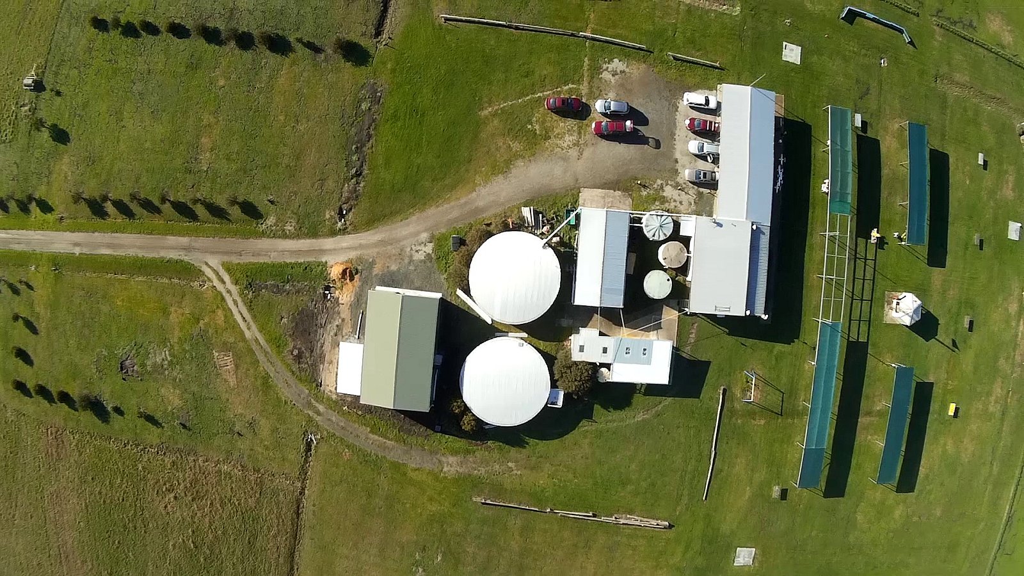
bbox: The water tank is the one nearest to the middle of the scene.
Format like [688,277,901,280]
[469,231,561,323]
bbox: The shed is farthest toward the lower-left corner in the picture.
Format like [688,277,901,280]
[337,288,442,412]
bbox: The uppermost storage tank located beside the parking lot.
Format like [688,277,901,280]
[640,210,673,242]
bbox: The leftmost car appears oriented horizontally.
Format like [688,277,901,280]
[546,95,582,111]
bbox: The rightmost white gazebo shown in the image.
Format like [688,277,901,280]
[884,292,922,326]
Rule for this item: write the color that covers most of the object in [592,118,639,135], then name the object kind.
red vehicle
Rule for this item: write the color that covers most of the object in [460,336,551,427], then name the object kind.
white water tank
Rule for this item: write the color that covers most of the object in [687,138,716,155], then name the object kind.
white vehicle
